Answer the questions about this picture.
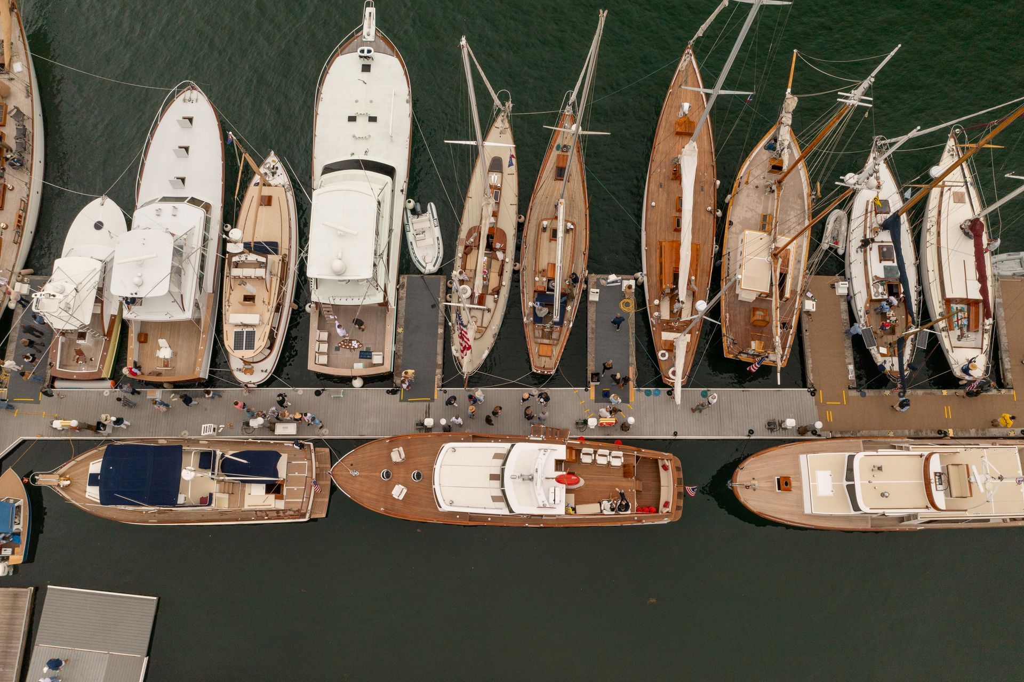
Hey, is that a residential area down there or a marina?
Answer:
marina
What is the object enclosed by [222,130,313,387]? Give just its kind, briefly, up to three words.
boat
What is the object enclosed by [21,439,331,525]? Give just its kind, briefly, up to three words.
boat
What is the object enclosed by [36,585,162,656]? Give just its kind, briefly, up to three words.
pier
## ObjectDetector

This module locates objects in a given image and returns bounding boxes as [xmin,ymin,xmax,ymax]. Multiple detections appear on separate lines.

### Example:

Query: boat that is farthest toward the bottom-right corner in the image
[730,437,1024,531]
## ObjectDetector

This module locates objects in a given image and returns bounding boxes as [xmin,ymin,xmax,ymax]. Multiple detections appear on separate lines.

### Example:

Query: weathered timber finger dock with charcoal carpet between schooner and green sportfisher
[2,275,54,388]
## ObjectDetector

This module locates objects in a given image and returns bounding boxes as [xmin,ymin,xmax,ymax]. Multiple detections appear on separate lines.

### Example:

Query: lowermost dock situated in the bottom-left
[26,644,152,682]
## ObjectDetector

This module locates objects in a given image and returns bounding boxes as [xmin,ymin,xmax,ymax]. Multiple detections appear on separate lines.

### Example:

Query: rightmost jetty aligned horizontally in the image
[819,389,1024,437]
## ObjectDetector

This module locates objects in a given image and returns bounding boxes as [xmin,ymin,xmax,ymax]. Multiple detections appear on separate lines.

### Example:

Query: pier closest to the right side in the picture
[993,276,1024,389]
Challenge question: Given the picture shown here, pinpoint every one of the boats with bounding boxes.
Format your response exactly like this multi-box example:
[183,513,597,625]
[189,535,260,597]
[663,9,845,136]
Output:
[405,195,444,274]
[21,439,331,525]
[222,130,313,387]
[821,208,849,253]
[111,80,232,386]
[0,194,128,381]
[992,250,1024,277]
[0,0,51,341]
[520,0,611,375]
[284,0,412,382]
[915,113,1024,379]
[642,0,792,408]
[716,44,922,385]
[842,95,1024,393]
[331,432,686,527]
[730,437,1024,531]
[443,30,518,388]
